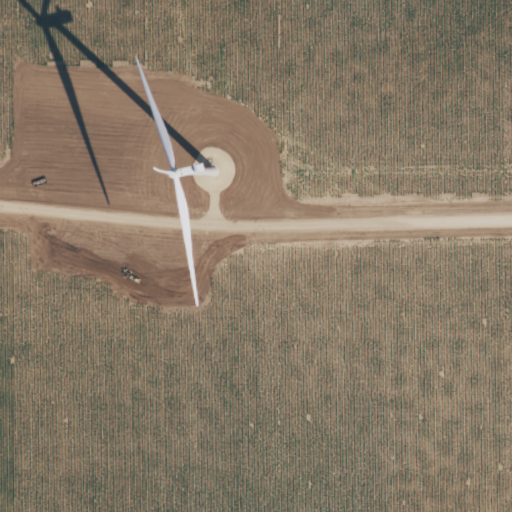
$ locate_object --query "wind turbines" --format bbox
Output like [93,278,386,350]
[134,56,220,305]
